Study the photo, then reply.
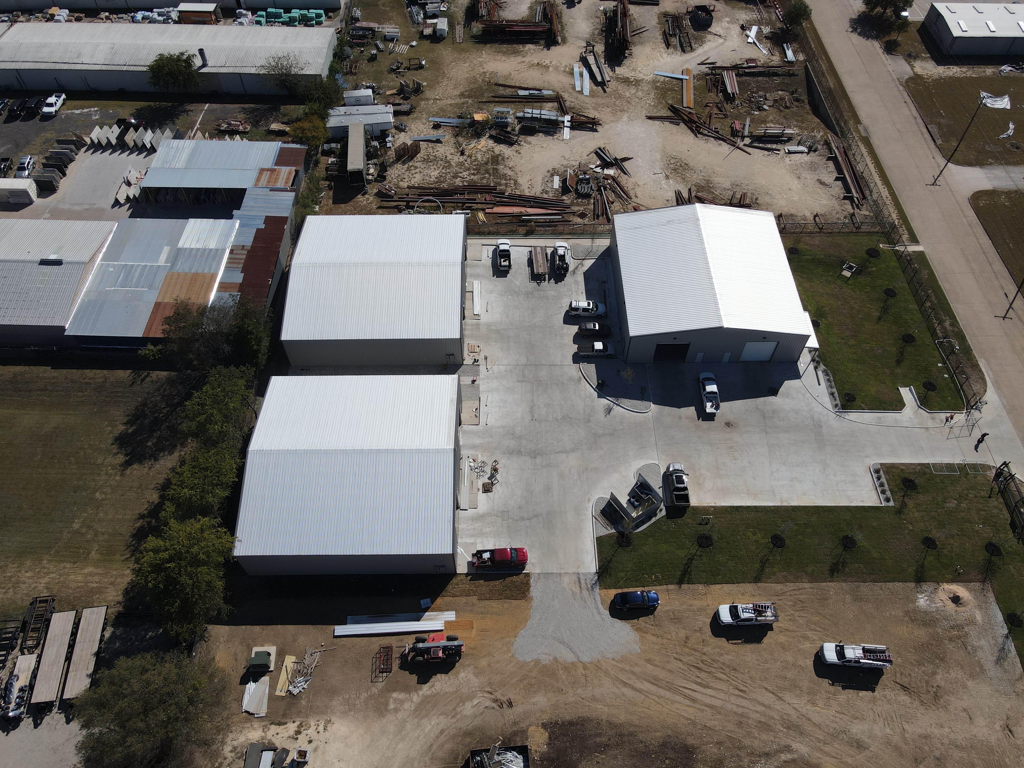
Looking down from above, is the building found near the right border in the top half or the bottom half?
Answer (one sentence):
It is in the top half that the building found near the right border appears.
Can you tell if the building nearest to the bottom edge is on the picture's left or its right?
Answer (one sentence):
The building nearest to the bottom edge sits on the left side.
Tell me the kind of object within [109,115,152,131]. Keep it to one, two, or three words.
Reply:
vehicle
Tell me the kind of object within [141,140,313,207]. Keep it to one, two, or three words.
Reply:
shed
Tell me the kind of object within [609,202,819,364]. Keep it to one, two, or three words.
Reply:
building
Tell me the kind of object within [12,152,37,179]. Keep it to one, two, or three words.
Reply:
car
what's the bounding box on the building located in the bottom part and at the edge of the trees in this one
[231,373,462,577]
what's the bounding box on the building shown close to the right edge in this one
[925,2,1024,55]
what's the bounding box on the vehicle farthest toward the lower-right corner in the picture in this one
[820,638,894,669]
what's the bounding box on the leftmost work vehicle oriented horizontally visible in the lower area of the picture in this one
[394,634,465,667]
